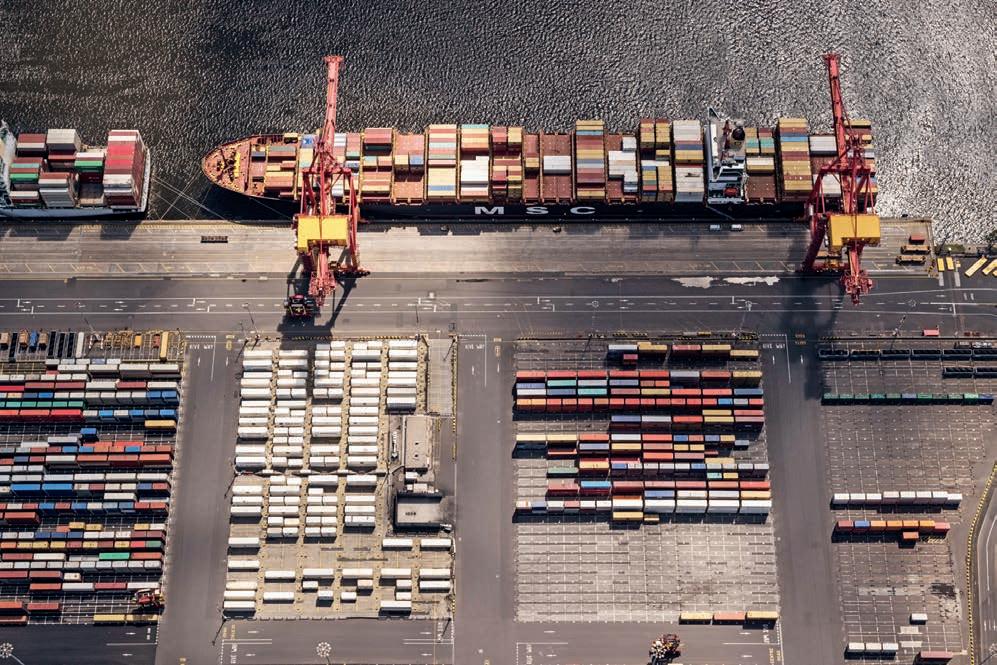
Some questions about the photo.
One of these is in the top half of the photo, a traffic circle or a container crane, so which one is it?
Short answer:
container crane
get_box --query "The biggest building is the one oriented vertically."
[404,417,430,471]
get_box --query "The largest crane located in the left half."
[292,55,372,312]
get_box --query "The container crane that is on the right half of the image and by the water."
[793,55,880,312]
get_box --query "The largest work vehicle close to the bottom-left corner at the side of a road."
[133,590,166,611]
